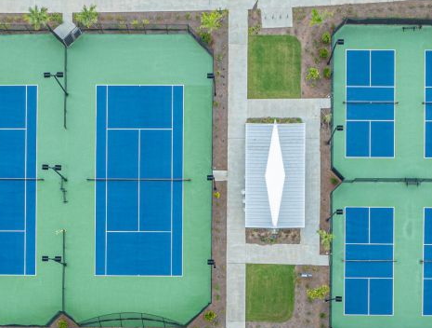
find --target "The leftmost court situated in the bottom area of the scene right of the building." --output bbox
[331,180,410,328]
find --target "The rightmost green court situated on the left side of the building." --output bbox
[63,34,213,326]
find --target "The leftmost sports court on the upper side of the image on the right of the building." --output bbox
[332,24,410,178]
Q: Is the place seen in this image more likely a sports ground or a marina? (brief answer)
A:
sports ground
